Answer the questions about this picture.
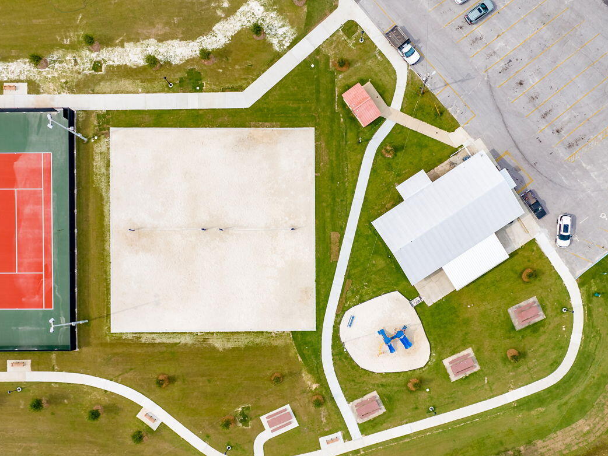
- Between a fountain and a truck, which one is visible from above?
truck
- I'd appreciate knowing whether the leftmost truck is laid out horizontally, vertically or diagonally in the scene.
diagonally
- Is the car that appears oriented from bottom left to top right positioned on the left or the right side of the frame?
right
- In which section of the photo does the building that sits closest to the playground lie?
right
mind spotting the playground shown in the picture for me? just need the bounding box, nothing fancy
[377,324,413,356]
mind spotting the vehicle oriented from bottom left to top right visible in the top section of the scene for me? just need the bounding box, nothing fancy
[464,0,495,26]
